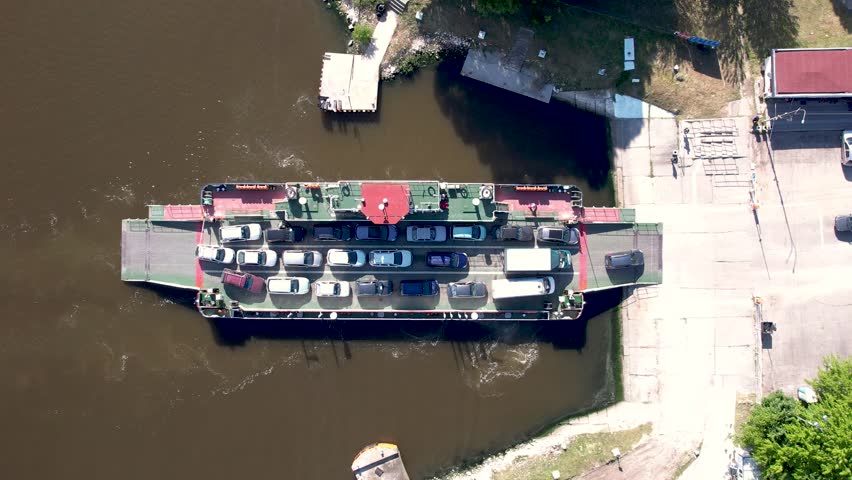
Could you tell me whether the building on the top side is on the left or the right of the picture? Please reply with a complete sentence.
It is on the right.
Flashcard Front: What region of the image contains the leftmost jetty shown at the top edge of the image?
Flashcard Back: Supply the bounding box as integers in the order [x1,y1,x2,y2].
[318,11,398,114]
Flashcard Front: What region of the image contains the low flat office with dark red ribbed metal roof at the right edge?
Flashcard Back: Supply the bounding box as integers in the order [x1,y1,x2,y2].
[757,47,852,101]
